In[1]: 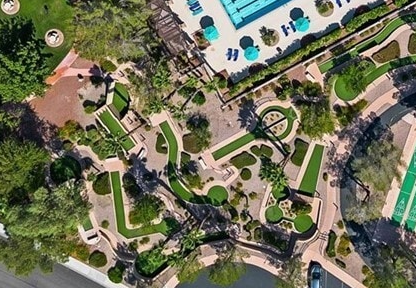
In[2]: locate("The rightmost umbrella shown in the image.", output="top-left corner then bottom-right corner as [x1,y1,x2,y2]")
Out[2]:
[294,16,311,32]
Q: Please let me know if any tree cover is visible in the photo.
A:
Yes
